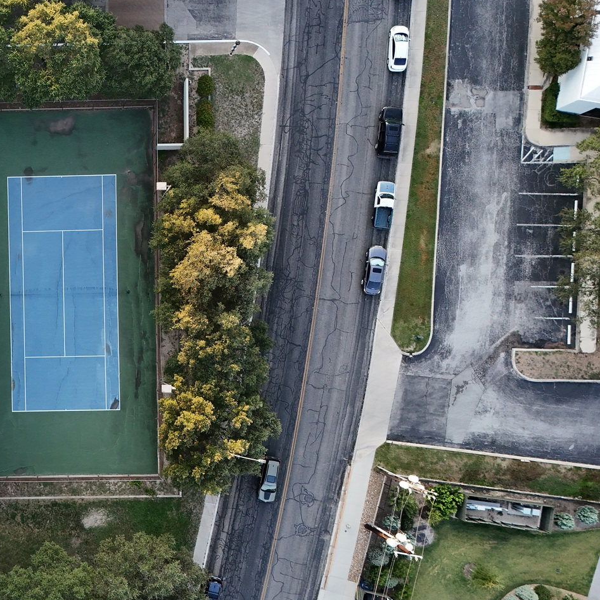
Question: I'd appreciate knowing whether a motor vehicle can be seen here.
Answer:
Yes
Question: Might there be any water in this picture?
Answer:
No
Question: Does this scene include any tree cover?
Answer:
Yes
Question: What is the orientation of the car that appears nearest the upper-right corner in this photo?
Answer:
up and down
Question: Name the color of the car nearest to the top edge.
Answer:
white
